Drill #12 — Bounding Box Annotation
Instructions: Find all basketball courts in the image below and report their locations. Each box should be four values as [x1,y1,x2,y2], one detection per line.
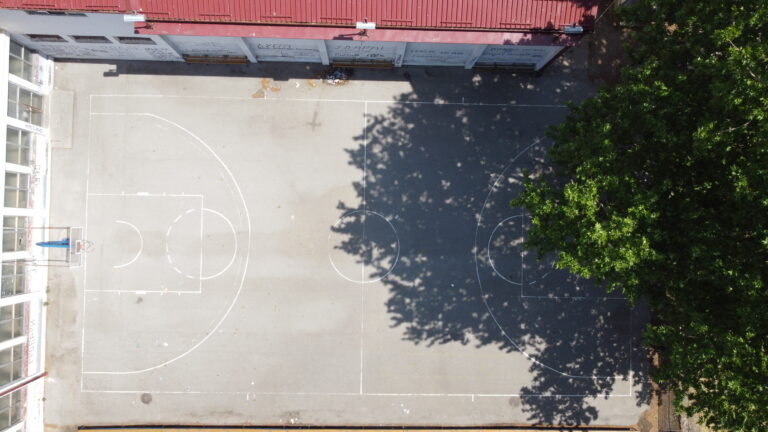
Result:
[42,33,650,432]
